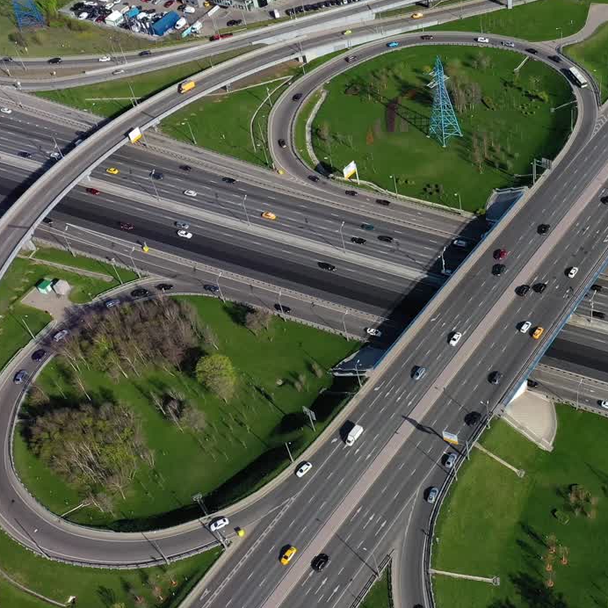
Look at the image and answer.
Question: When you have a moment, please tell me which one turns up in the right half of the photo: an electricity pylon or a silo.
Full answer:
The feature located in the right half of the photo is an electricity pylon.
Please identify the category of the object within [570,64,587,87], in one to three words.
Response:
vehicle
